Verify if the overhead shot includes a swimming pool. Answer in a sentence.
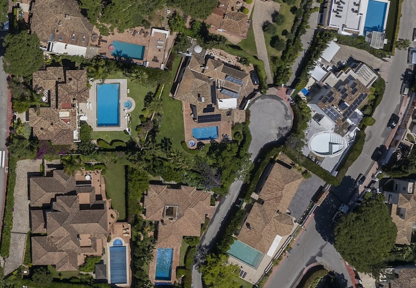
Yes, a swimming pool is visible in the scene.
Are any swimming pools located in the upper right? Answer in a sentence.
Yes, I can see a swimming pool in the upper right.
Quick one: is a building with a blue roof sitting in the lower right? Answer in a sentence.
No, in the lower right there is no building with a blue roof.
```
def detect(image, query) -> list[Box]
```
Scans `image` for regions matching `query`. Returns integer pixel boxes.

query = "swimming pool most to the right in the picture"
[363,0,389,36]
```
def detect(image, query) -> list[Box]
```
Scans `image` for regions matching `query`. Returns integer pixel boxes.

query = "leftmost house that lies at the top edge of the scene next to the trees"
[30,0,99,58]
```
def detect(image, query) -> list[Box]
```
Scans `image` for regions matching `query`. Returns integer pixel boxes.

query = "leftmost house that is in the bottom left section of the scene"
[29,170,108,272]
